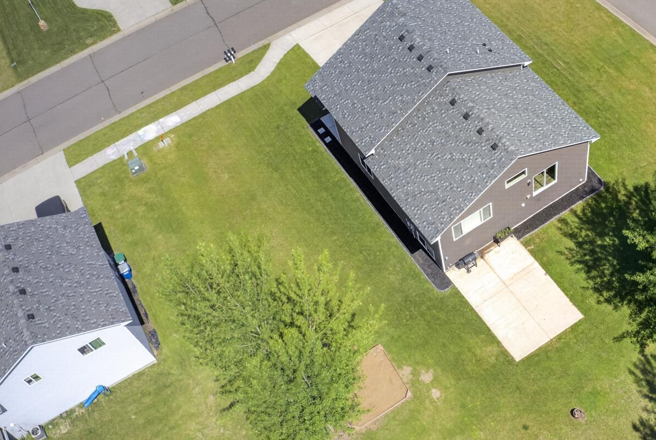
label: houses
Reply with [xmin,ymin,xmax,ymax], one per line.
[0,207,156,429]
[306,0,598,273]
